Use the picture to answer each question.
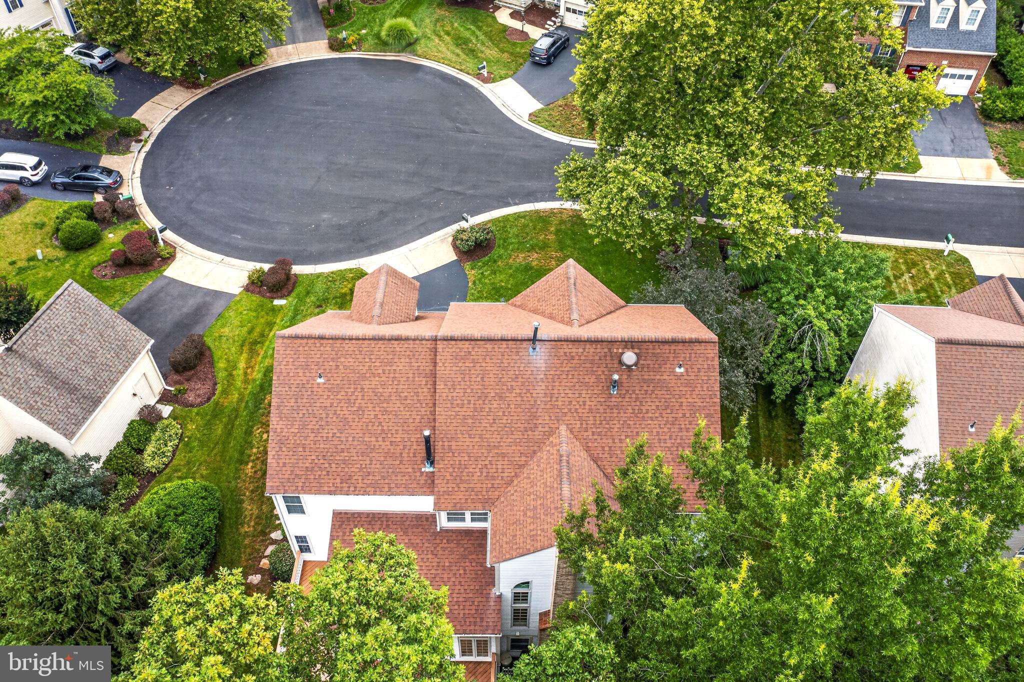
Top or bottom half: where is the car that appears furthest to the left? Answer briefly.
top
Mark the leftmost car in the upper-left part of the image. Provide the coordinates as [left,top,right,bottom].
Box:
[0,151,46,187]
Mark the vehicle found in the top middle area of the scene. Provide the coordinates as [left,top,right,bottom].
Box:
[532,33,567,63]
